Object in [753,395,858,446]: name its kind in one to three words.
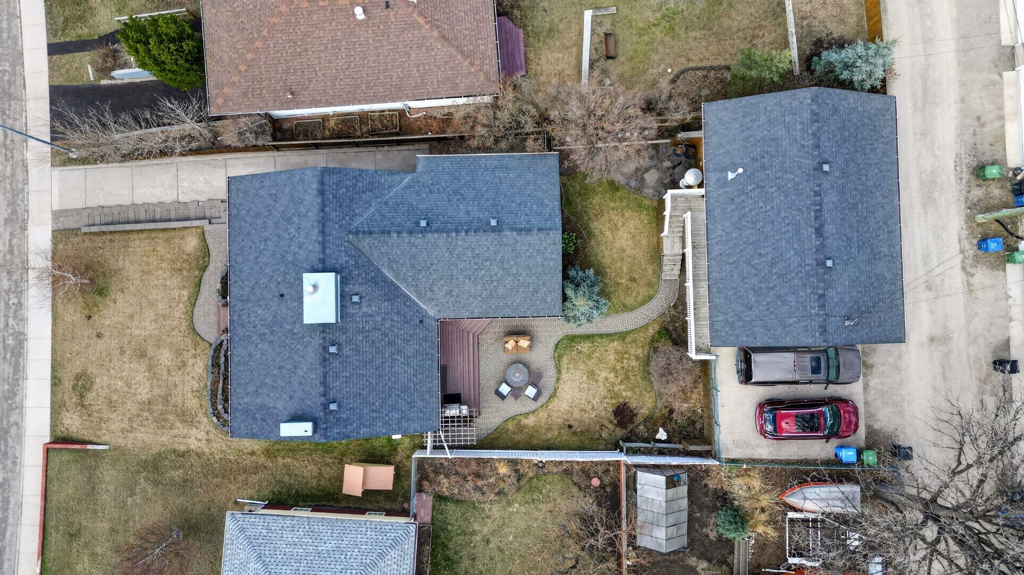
car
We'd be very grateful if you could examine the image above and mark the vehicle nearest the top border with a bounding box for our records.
[730,344,860,395]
